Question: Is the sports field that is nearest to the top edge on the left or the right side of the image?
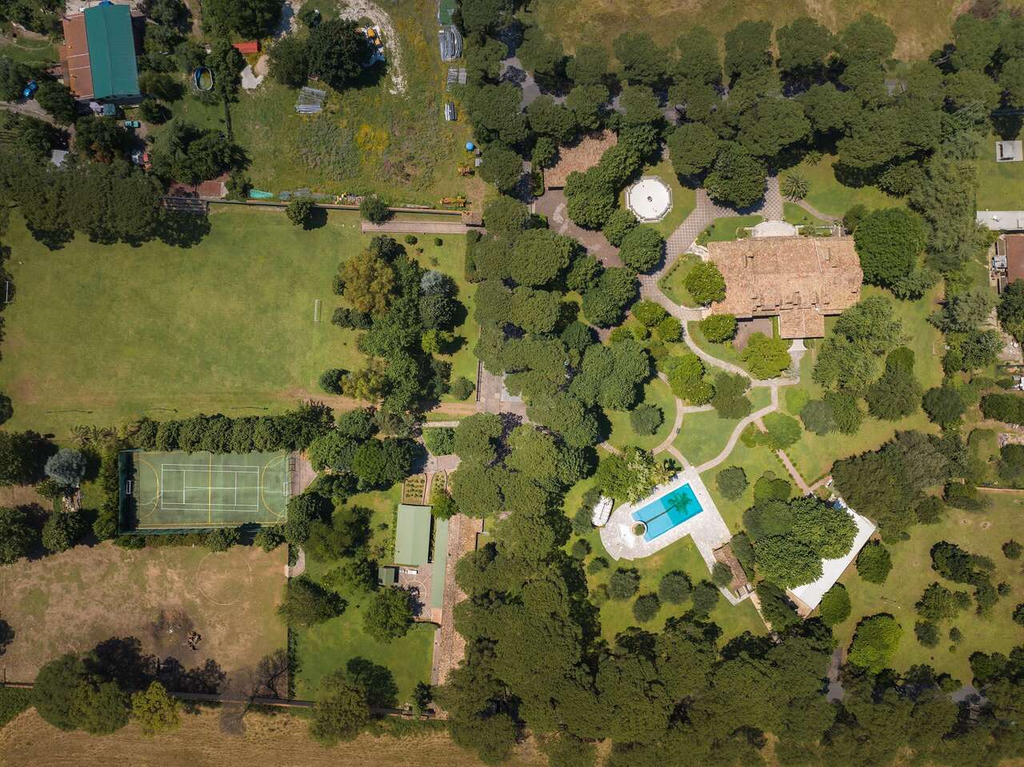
left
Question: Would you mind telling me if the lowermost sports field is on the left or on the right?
left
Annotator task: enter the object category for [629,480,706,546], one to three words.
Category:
swimming pool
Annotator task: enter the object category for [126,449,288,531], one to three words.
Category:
sports court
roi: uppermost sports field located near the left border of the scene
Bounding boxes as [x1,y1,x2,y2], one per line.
[0,234,343,424]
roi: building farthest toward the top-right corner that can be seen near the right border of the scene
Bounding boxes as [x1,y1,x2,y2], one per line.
[989,141,1023,165]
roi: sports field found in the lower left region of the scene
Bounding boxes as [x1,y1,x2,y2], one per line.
[0,551,282,677]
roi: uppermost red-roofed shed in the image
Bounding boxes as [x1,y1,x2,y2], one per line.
[233,42,262,58]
